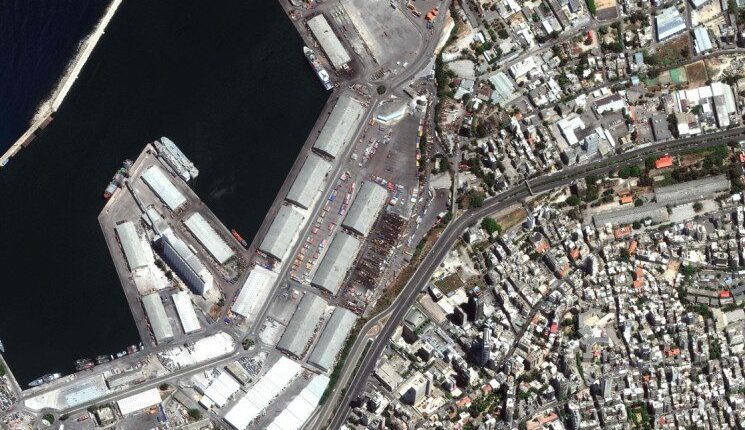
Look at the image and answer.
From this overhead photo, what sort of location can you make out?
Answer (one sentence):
This image shows a port.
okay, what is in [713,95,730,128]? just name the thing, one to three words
shed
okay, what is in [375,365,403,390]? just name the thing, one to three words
building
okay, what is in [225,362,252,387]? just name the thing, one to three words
building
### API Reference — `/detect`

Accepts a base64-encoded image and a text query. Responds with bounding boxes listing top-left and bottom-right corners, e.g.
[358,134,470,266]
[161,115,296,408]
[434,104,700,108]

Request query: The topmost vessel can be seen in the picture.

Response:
[304,45,335,91]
